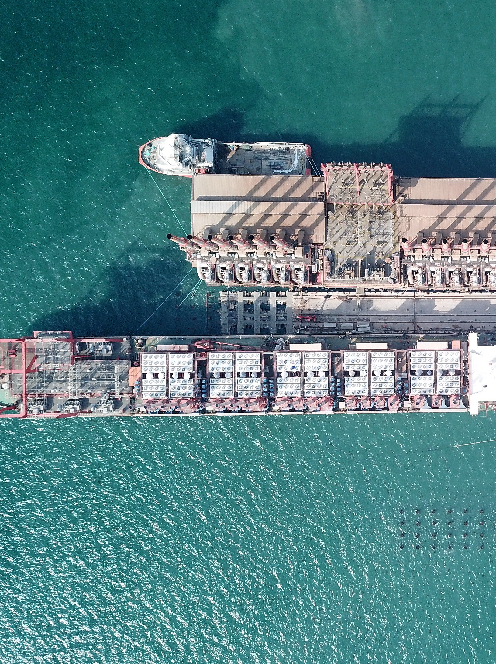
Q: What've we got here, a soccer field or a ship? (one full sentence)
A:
Of the two, only a ship appears.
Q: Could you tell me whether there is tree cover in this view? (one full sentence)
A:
No, no tree cover is visible.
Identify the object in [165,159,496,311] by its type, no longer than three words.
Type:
ship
